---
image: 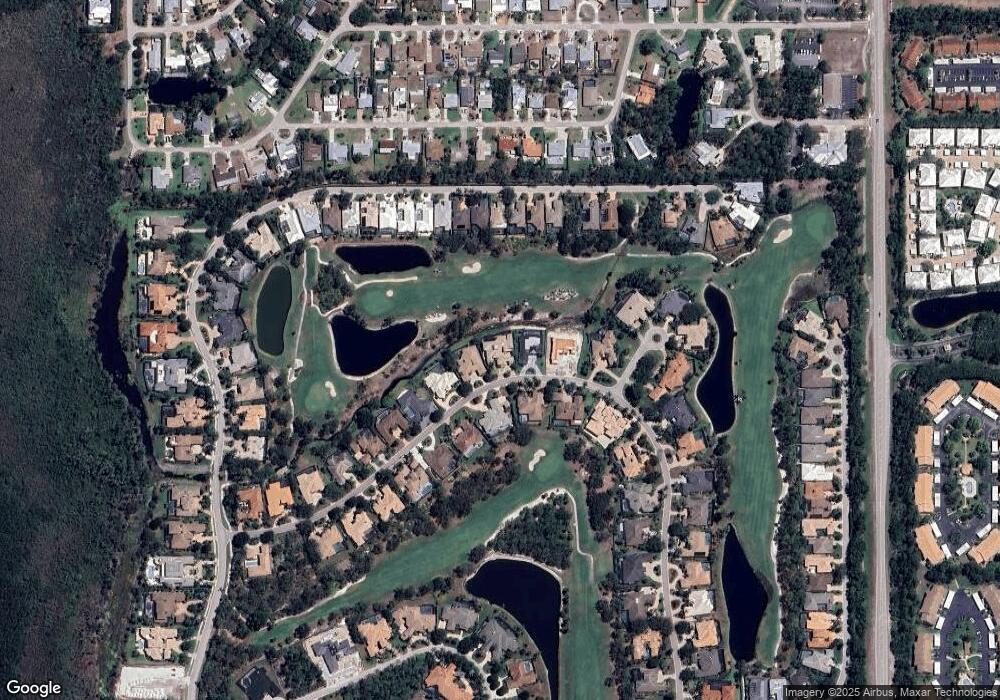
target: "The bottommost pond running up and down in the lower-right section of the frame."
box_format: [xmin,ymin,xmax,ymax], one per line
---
[722,524,768,661]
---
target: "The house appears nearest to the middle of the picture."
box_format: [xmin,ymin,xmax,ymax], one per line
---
[483,332,517,367]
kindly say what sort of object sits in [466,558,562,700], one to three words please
pond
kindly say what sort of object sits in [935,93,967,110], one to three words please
building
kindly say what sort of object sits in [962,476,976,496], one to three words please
swimming pool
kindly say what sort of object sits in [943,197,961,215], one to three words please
swimming pool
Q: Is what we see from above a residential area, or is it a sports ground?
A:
residential area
